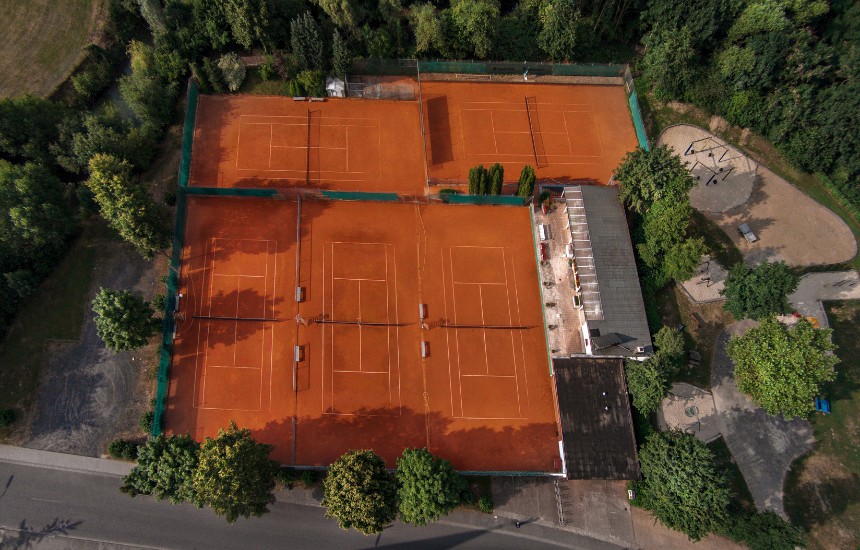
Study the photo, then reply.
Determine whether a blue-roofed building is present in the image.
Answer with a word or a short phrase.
No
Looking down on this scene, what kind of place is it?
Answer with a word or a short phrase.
sports ground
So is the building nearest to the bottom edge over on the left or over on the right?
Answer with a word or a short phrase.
right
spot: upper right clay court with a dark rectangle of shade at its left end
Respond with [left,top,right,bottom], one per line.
[421,82,642,207]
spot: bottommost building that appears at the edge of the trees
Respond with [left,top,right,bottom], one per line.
[550,354,642,480]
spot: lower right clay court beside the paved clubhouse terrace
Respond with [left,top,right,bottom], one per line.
[418,203,562,474]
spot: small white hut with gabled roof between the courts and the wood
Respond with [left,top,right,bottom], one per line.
[323,73,344,98]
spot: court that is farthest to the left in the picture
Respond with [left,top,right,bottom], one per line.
[164,197,298,467]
